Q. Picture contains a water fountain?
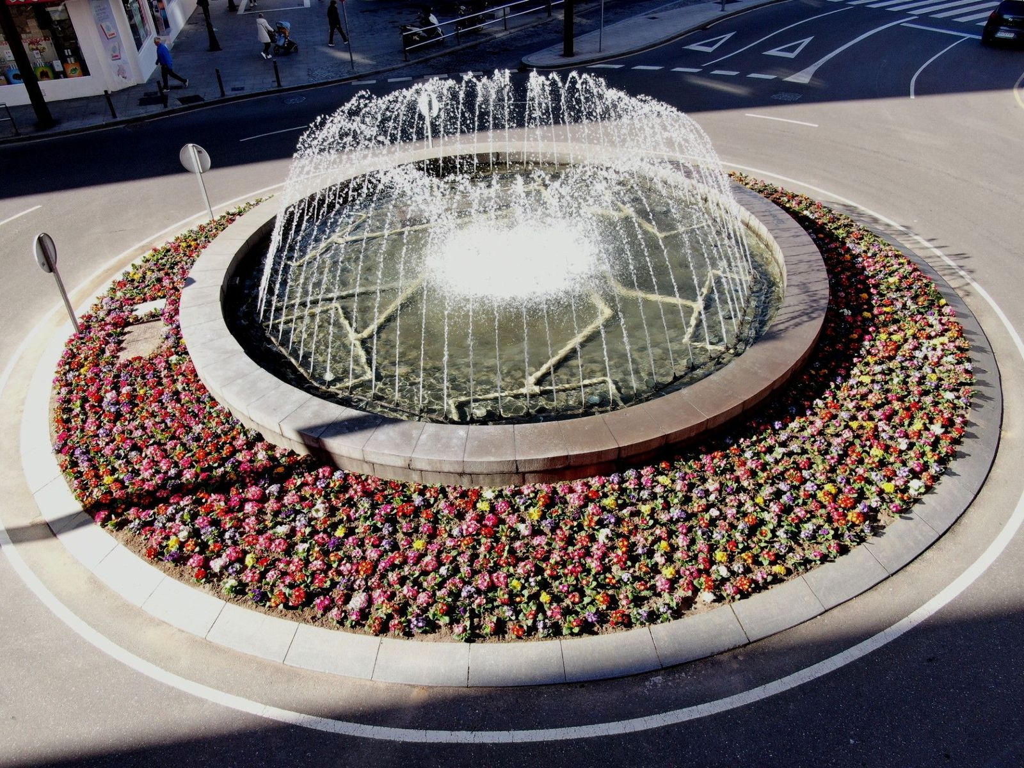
Yes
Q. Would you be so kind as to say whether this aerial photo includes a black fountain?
No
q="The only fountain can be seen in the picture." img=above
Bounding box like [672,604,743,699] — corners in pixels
[174,64,837,488]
